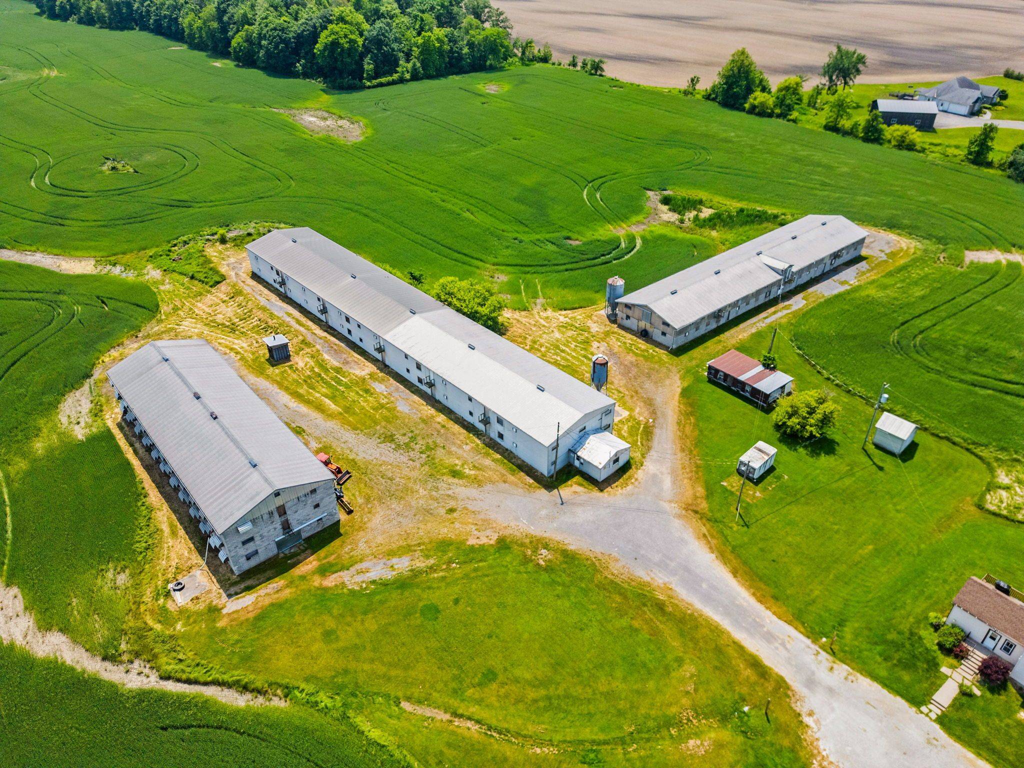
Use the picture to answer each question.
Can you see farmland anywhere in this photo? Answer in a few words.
Yes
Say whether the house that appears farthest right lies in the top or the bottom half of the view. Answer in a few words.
bottom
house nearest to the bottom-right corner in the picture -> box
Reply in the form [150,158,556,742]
[949,572,1024,705]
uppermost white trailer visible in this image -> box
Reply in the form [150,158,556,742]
[736,441,778,481]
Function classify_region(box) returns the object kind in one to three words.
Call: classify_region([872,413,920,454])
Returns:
shed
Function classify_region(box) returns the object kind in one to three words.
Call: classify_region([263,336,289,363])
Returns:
shed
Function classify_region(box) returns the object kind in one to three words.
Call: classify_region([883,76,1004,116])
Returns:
house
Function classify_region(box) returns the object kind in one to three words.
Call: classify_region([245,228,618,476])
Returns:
barn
